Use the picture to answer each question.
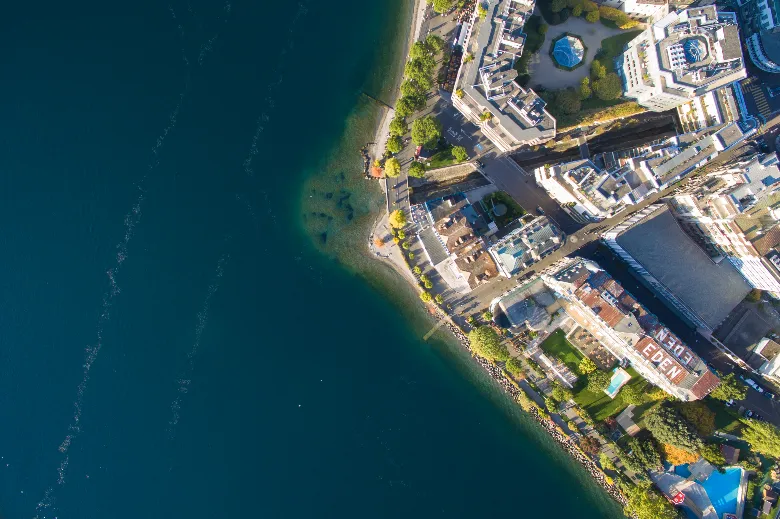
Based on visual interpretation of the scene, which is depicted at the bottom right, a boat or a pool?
pool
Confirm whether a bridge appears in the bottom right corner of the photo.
No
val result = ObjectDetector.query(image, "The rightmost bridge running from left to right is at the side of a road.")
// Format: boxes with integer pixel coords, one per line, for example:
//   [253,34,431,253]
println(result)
[470,157,529,184]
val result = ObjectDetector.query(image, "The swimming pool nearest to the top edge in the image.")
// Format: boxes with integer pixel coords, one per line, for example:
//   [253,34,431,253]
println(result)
[605,367,632,399]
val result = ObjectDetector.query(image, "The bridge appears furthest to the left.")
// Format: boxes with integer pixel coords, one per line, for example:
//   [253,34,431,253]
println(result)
[386,177,412,216]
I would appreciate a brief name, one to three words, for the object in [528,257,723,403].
building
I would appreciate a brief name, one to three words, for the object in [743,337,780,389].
building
